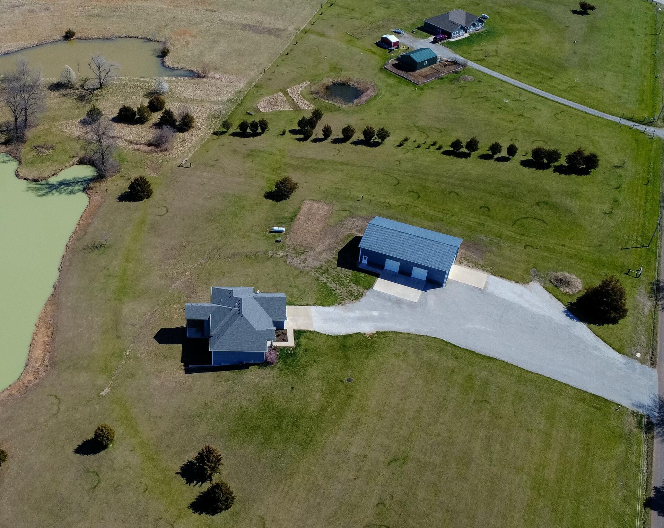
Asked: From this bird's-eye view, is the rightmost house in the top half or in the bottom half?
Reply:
top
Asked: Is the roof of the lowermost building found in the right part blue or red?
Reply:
blue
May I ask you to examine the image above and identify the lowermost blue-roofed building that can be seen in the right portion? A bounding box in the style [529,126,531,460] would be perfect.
[358,215,465,287]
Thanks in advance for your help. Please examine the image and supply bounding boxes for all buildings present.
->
[381,32,400,47]
[185,283,288,365]
[422,9,487,39]
[399,46,437,70]
[358,215,465,287]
